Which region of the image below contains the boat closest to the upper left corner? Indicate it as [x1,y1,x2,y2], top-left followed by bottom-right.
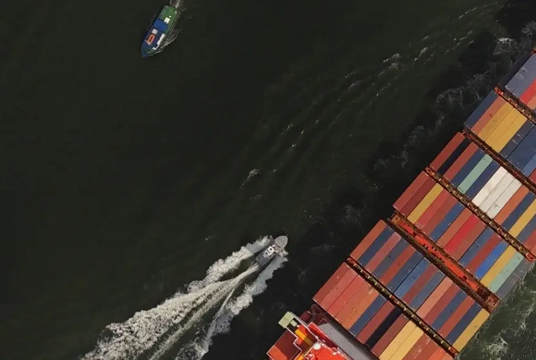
[140,5,179,56]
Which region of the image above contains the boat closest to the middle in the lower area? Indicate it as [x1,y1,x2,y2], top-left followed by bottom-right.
[254,234,286,266]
